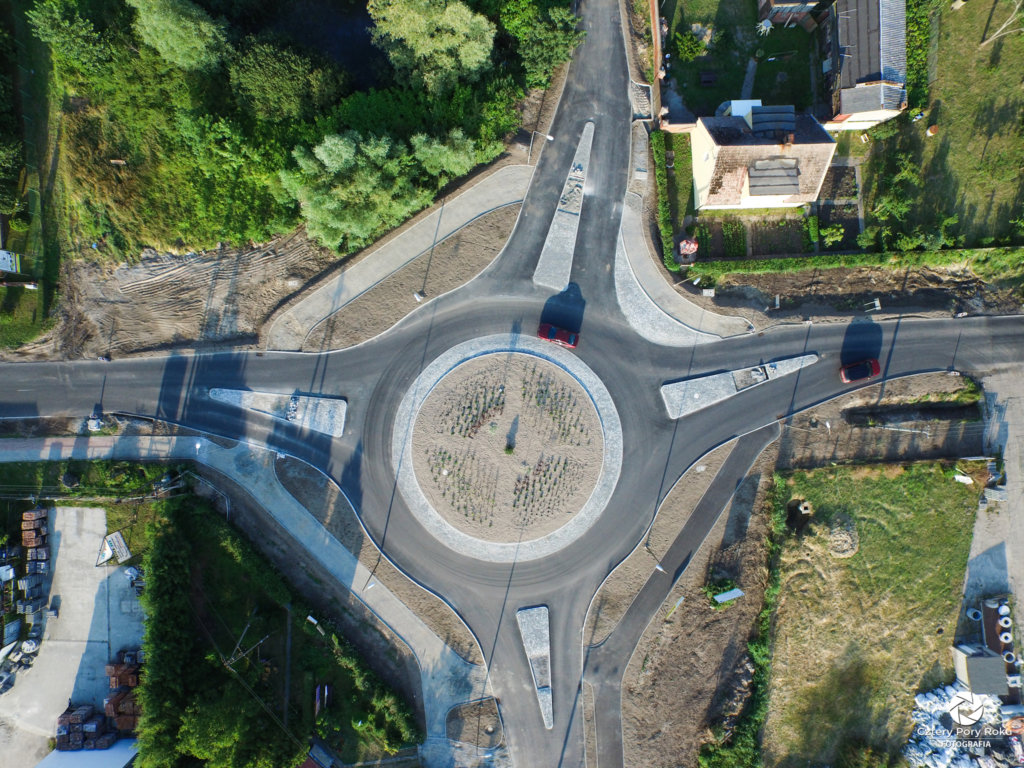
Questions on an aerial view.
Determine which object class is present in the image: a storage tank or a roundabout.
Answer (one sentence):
This aerial view contains a roundabout.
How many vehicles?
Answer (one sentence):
Altogether the scene contains 2 vehicles.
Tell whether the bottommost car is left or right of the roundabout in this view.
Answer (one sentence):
The bottommost car can be seen on the right of the roundabout.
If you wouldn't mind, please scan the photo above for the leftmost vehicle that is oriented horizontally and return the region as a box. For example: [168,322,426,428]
[537,324,581,348]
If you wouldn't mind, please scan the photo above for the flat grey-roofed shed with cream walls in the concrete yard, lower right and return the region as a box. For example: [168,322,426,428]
[952,637,1009,691]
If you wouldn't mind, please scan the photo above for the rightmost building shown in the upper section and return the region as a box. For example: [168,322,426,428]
[821,0,909,135]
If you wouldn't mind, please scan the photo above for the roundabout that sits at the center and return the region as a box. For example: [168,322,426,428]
[393,333,623,563]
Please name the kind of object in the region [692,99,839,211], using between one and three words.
house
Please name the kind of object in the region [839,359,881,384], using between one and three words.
car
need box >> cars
[839,359,881,384]
[537,324,581,348]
